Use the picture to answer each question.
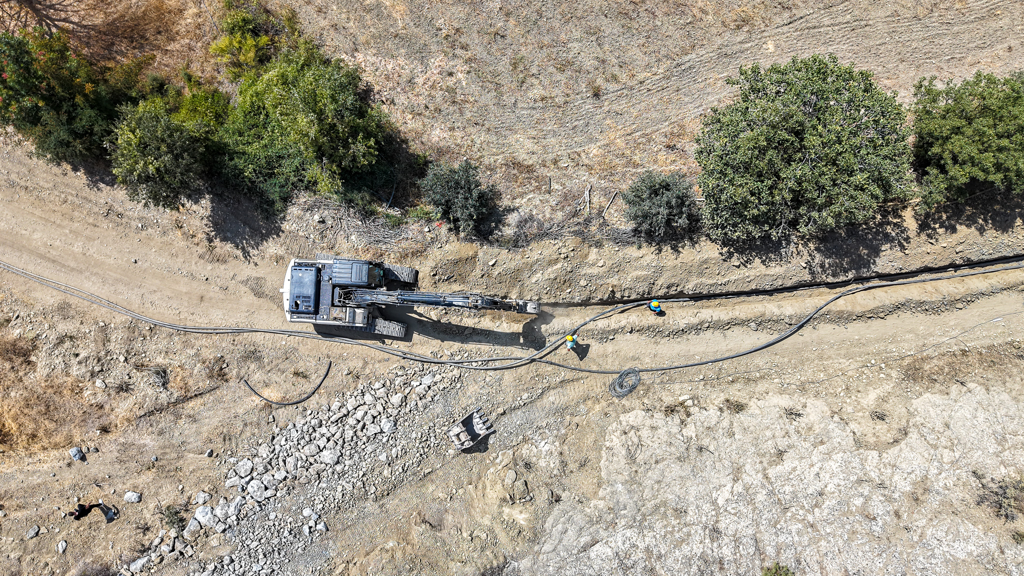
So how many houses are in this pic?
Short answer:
none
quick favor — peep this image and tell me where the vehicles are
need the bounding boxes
[279,253,540,334]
